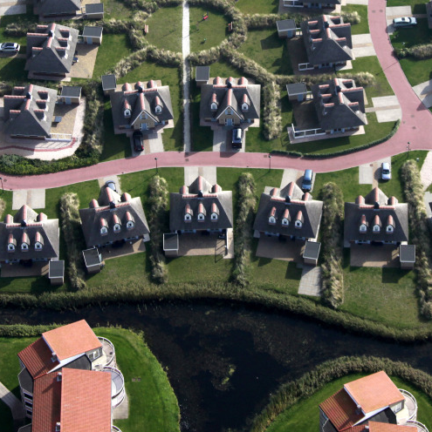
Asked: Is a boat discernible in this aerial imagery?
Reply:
No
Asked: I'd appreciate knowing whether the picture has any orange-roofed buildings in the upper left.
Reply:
No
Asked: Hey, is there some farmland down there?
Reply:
No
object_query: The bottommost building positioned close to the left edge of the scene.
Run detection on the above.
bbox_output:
[17,321,126,432]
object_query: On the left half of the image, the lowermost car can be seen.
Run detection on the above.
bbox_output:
[104,176,119,194]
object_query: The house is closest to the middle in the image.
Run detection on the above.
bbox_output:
[169,176,233,235]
